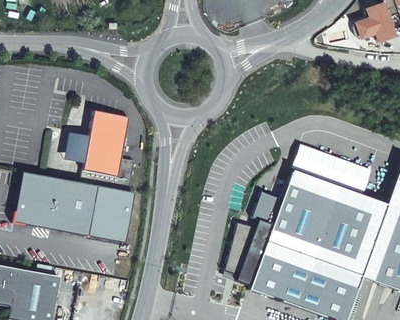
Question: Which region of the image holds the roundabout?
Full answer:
The roundabout appears toward the top of the photo.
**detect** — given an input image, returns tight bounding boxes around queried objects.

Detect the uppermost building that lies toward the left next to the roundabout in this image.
[84,110,128,176]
